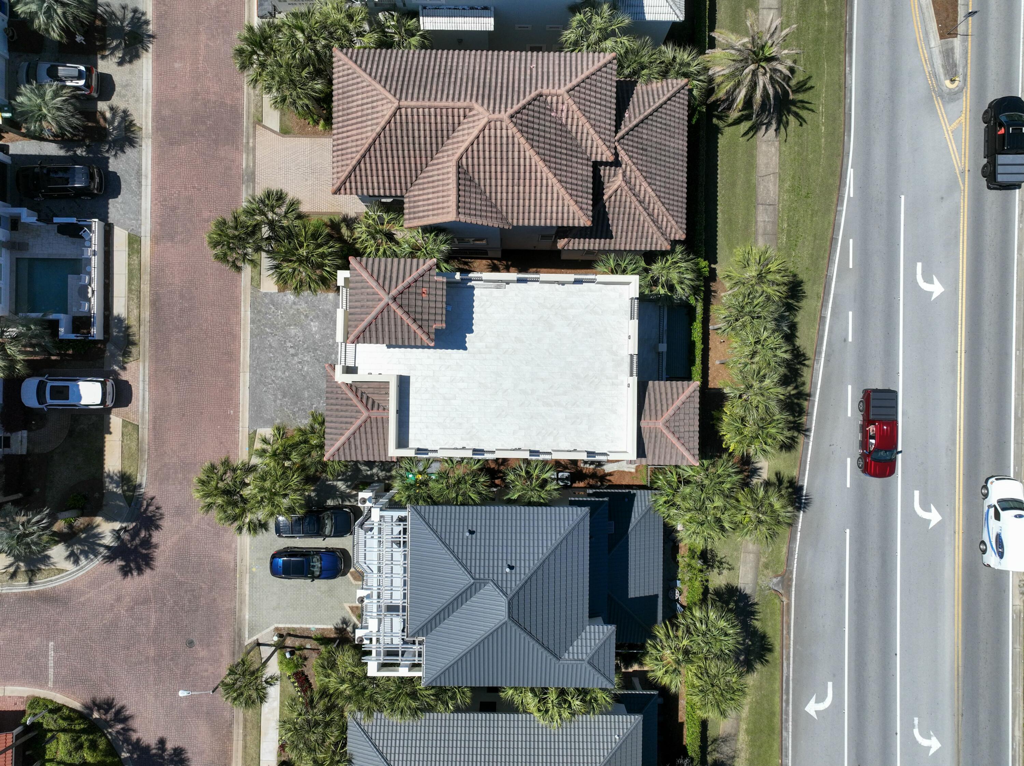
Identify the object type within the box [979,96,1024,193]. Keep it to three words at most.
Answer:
truck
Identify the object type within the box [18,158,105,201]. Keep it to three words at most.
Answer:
car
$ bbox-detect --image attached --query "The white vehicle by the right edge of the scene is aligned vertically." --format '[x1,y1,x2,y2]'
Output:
[976,476,1024,576]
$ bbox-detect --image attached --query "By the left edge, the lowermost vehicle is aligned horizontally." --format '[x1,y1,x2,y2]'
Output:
[23,372,117,413]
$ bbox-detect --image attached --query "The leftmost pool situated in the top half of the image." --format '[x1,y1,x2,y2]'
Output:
[15,257,81,313]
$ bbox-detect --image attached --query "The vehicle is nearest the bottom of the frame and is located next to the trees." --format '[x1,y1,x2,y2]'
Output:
[268,546,345,585]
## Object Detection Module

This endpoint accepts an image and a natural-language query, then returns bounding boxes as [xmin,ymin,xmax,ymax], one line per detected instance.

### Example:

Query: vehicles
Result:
[979,96,1024,193]
[18,158,105,201]
[268,546,345,585]
[976,476,1024,576]
[855,385,902,478]
[23,372,117,413]
[19,55,102,102]
[272,503,355,543]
